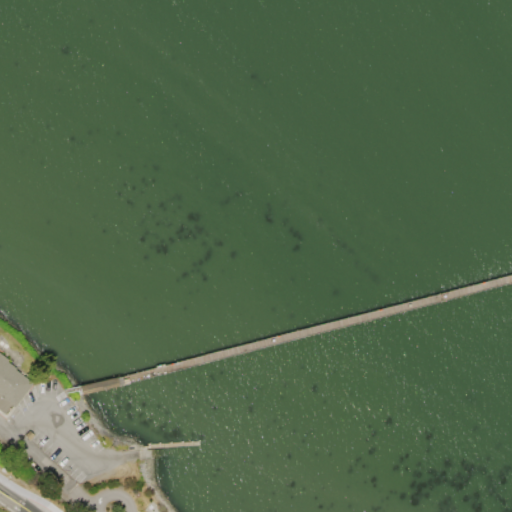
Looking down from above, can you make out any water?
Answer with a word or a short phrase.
Yes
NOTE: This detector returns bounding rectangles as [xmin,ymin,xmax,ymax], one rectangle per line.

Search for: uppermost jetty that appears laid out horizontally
[78,276,512,396]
